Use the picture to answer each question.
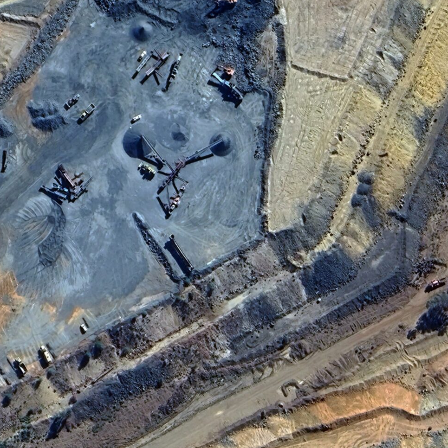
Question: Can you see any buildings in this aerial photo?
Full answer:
No, I can see no building in this picture.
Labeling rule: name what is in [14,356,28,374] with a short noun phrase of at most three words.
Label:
vehicle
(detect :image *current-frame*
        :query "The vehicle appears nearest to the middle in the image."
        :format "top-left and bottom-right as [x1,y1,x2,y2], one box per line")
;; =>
[169,234,194,269]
